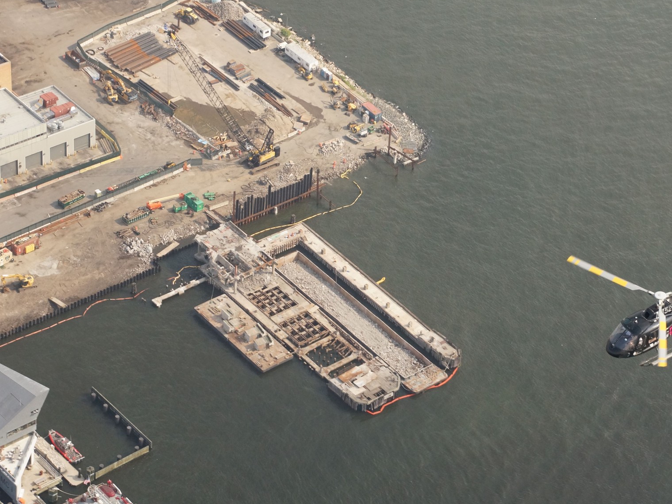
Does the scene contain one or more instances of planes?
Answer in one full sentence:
No, no plane is visible in the scene.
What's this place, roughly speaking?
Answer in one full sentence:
It's a port.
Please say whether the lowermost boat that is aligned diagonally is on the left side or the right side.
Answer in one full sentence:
It is on the left.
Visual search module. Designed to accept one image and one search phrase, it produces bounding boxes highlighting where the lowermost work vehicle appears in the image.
[4,269,38,292]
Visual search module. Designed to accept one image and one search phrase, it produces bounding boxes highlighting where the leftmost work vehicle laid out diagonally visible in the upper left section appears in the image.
[104,64,140,101]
